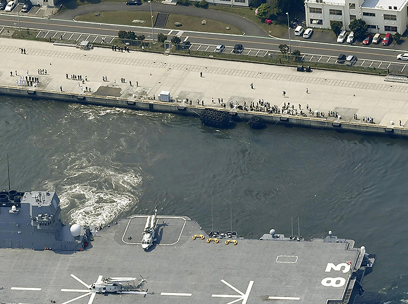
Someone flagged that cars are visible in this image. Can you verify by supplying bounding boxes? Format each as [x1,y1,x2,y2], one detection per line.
[335,53,348,64]
[361,34,373,45]
[302,27,314,39]
[397,53,408,60]
[20,3,33,12]
[126,0,143,5]
[4,2,16,10]
[344,56,357,66]
[232,45,244,53]
[293,23,306,36]
[344,30,357,43]
[372,32,382,43]
[336,31,348,42]
[180,42,191,50]
[381,32,393,45]
[0,0,9,9]
[214,44,227,53]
